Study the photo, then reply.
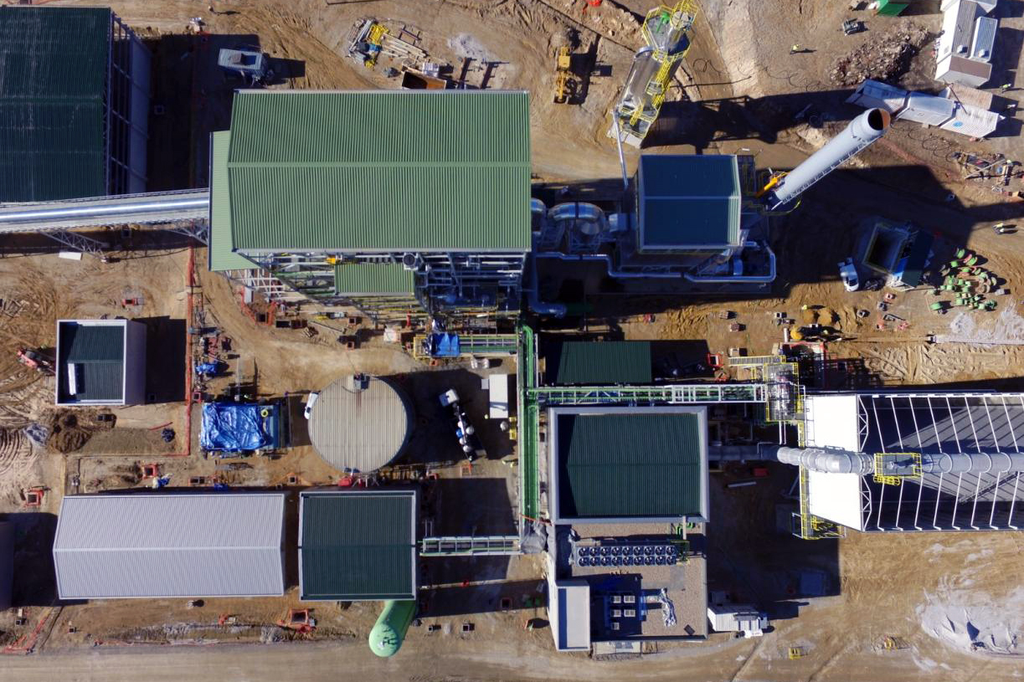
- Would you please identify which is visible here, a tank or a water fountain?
tank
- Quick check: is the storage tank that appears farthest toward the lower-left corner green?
Yes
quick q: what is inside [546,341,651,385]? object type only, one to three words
shed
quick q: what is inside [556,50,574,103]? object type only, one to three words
work vehicle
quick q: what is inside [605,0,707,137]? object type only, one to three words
silo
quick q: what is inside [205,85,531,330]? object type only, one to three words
building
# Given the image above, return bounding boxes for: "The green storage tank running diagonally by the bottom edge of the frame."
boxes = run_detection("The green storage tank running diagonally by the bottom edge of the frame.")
[370,596,419,654]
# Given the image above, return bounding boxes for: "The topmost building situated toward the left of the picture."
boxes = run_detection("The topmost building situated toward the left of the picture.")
[0,8,155,205]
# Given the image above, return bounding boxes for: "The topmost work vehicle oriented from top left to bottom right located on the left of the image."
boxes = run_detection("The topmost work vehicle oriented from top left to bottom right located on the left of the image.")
[14,348,54,378]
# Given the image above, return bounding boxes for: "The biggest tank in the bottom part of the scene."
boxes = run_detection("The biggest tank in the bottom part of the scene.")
[307,374,417,476]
